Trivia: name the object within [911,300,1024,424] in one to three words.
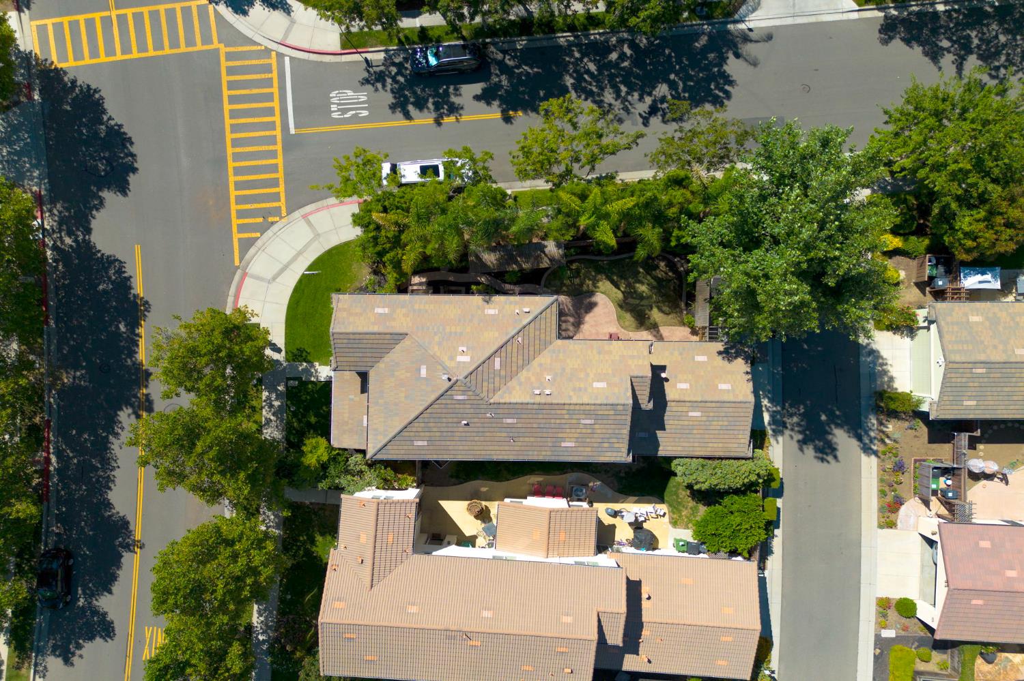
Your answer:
house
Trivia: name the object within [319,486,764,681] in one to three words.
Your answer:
house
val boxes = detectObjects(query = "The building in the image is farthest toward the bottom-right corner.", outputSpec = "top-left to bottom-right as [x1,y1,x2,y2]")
[916,516,1024,646]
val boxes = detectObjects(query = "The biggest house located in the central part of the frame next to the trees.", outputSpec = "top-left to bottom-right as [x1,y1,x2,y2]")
[327,290,758,464]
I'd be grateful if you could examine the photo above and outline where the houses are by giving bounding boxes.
[911,300,1024,424]
[327,290,758,464]
[916,516,1024,646]
[319,486,764,681]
